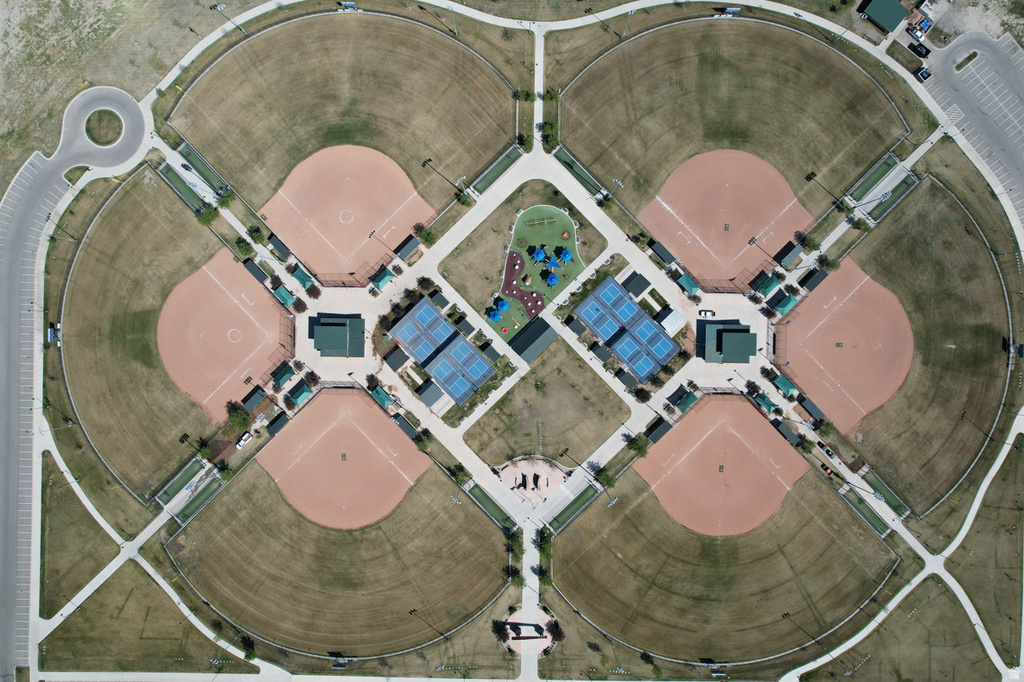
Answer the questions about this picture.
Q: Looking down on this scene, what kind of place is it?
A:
sports ground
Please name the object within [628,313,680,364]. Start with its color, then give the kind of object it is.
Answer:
blue sports court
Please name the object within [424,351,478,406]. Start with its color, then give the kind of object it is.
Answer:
blue sports court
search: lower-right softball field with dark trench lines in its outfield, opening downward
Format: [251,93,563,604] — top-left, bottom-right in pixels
[549,394,913,664]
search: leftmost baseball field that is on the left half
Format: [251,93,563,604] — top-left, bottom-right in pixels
[62,164,295,504]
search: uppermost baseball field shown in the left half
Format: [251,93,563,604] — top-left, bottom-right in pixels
[154,12,530,286]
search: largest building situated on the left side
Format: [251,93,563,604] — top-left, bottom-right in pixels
[314,318,365,357]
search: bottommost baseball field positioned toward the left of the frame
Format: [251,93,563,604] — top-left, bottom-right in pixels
[137,390,544,658]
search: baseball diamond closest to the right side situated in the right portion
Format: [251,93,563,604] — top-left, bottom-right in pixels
[775,177,1011,517]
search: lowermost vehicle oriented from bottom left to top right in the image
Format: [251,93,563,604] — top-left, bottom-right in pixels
[236,434,251,449]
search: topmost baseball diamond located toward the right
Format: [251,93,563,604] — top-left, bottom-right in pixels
[543,18,909,293]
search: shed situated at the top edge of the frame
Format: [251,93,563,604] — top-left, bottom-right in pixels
[863,0,907,34]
